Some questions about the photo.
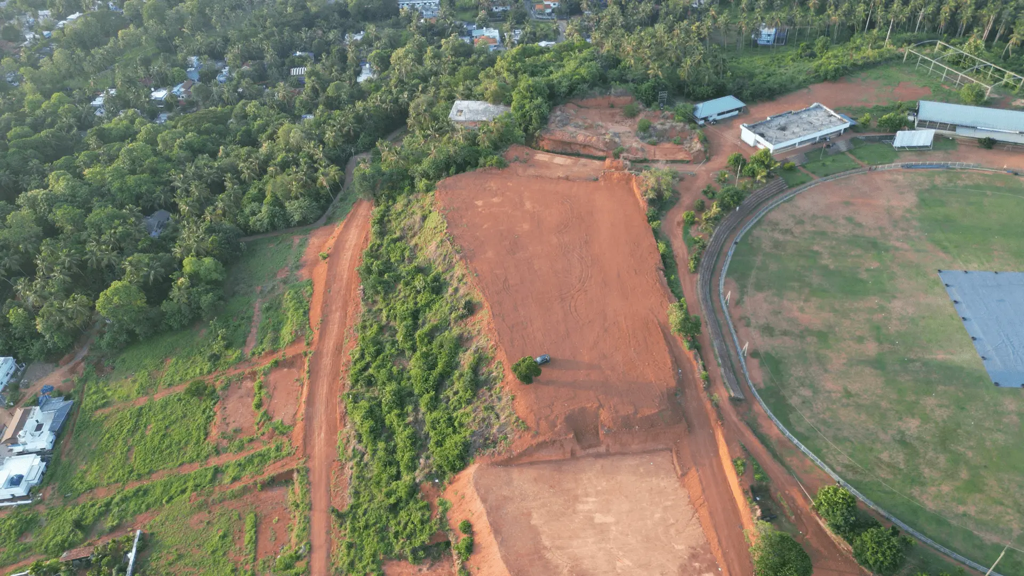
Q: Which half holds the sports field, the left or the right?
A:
right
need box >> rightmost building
[915,101,1024,144]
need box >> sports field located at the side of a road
[721,164,1024,576]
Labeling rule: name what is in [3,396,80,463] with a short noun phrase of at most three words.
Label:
house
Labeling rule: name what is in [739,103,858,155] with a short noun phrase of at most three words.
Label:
building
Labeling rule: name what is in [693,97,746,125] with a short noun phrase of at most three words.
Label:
building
